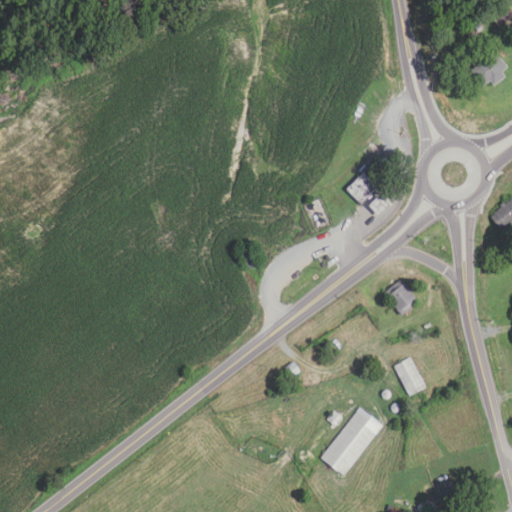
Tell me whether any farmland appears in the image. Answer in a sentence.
Yes, the picture does contain farmland.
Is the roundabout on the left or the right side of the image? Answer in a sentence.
The roundabout appears in the right half of the scene.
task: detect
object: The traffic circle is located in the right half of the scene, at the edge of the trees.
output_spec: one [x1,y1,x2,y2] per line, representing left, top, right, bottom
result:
[374,58,512,262]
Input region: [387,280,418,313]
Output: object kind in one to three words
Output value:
house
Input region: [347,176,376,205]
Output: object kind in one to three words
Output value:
building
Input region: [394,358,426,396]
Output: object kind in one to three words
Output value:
barn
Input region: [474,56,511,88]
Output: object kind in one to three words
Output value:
house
